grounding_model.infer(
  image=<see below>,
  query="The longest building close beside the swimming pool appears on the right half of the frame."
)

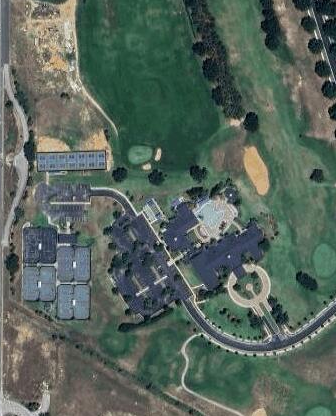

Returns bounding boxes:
[180,225,269,297]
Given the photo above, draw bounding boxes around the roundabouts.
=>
[228,262,271,308]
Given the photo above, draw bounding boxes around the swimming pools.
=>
[194,195,236,242]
